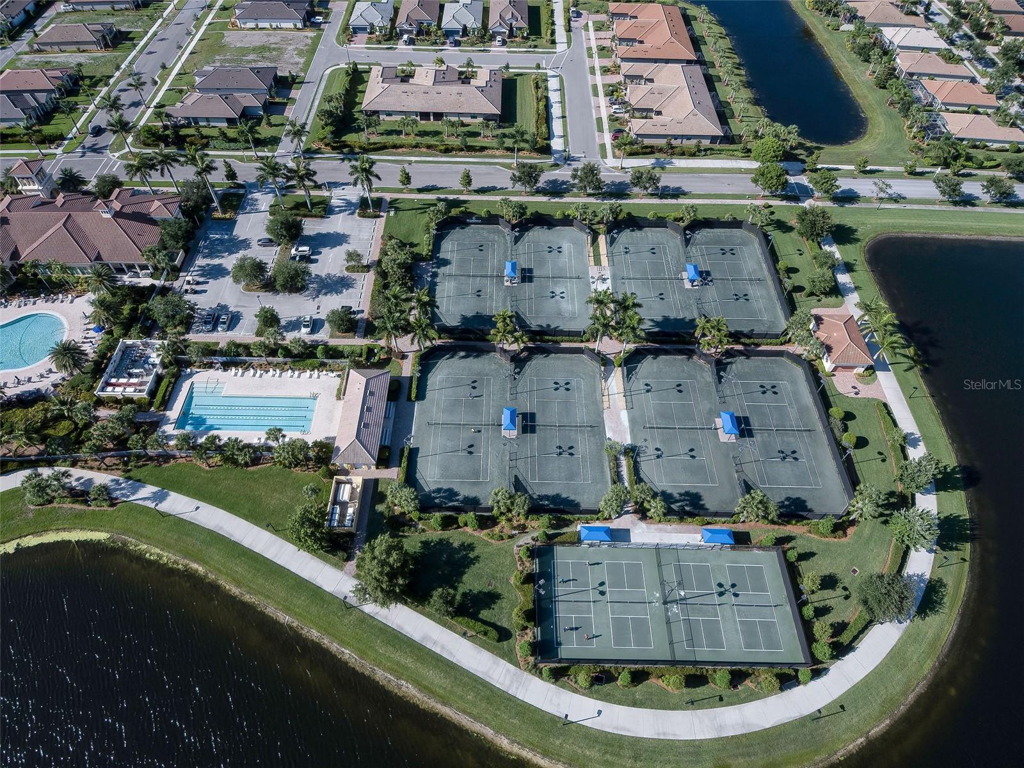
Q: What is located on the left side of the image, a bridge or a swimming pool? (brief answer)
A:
swimming pool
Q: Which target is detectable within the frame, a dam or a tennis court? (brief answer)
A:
tennis court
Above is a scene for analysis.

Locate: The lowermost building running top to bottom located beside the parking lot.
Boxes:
[331,368,391,470]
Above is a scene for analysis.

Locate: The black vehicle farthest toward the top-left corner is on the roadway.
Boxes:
[86,124,104,137]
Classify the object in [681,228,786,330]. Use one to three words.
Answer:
tennis court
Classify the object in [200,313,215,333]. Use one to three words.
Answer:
car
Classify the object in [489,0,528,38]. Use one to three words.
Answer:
house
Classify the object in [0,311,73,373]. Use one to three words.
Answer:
swimming pool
